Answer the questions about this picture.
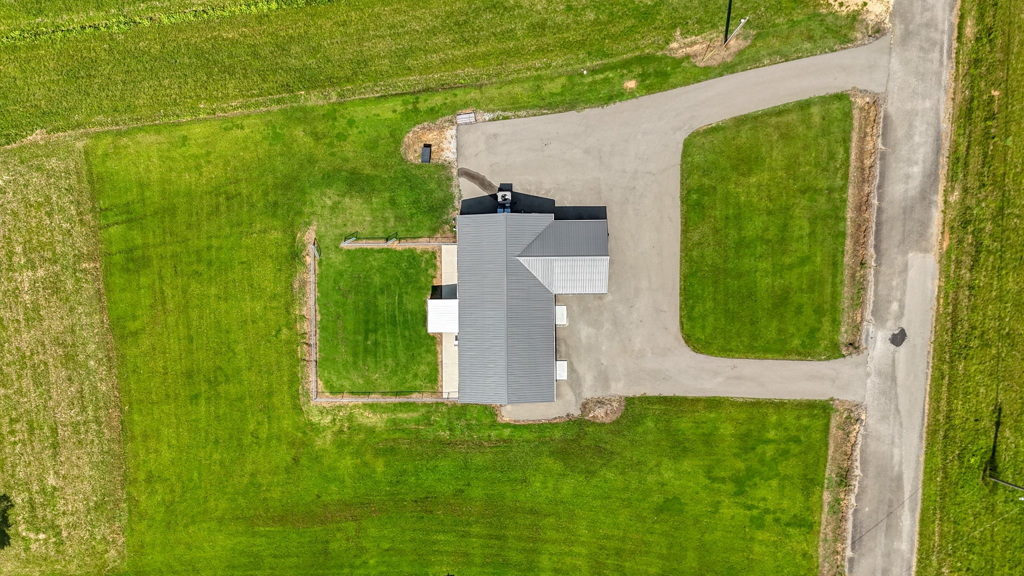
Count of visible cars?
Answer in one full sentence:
I count no cars.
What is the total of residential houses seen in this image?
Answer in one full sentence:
The picture shows 1 residential house.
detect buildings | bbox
[457,213,609,405]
